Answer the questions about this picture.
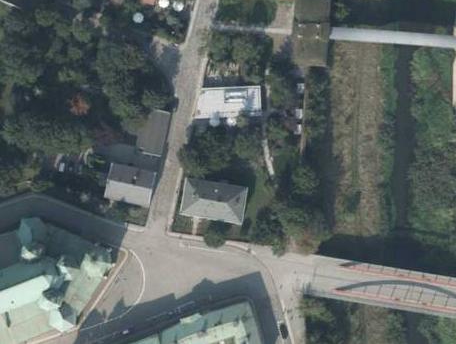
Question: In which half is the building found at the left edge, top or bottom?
bottom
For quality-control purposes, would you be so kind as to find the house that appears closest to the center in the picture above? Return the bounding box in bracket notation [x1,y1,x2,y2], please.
[180,177,248,226]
